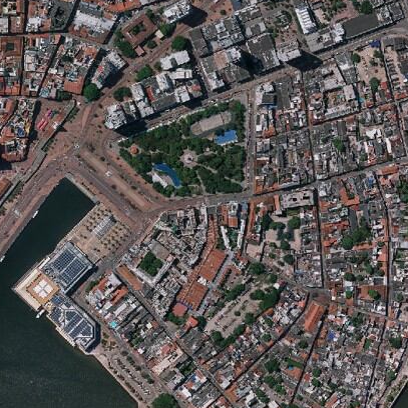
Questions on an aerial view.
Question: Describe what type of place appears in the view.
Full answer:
This looks like a residential area.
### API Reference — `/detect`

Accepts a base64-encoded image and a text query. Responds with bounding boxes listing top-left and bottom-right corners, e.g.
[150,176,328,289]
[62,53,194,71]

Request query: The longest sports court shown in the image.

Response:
[190,112,232,135]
